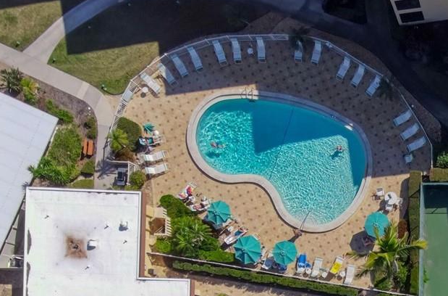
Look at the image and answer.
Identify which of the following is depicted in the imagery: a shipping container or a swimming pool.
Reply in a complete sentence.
Visible in the photo is a swimming pool.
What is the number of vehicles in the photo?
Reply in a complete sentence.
The picture shows no vehicles.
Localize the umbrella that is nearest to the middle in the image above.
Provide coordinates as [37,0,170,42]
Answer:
[207,202,233,227]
